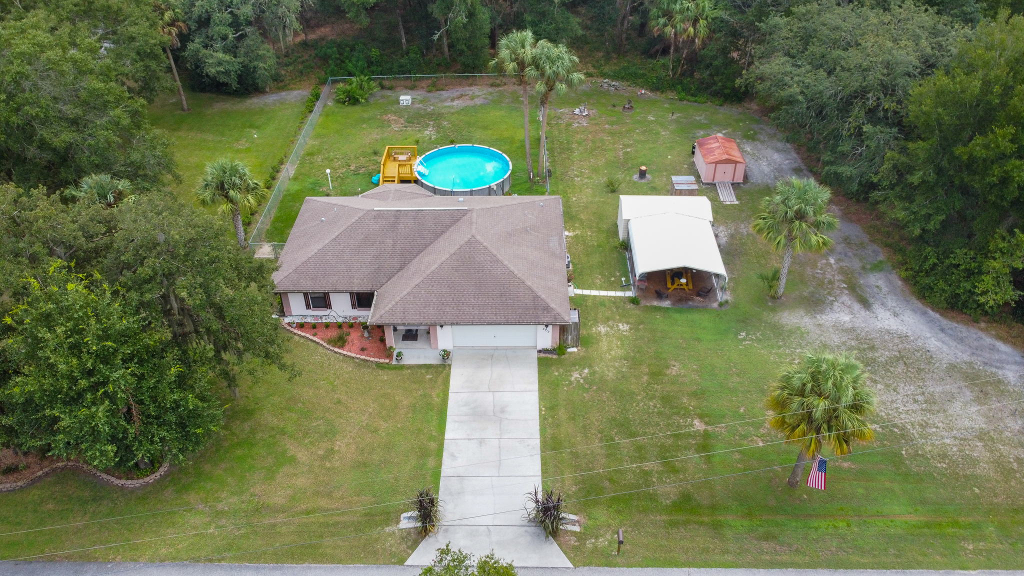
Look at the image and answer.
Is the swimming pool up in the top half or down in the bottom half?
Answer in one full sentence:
The swimming pool is in the top half of the image.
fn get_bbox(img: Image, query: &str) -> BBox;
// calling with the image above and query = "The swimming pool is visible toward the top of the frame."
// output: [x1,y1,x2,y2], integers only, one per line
[415,144,512,195]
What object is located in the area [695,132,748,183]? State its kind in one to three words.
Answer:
shed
